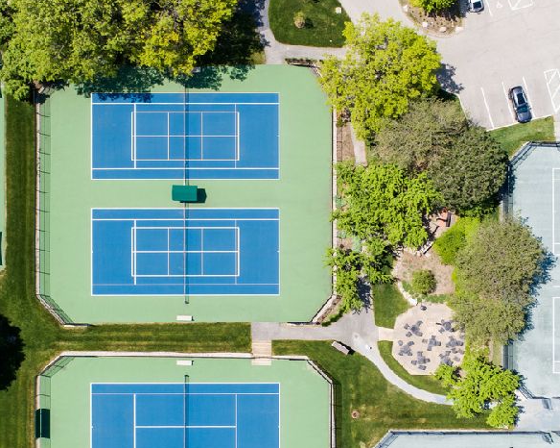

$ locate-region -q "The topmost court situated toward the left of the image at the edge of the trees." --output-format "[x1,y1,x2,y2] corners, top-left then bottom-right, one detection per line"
[91,93,280,179]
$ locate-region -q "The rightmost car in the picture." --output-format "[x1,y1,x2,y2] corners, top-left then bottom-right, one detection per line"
[509,83,532,123]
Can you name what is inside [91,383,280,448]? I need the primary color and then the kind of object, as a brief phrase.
blue tennis court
